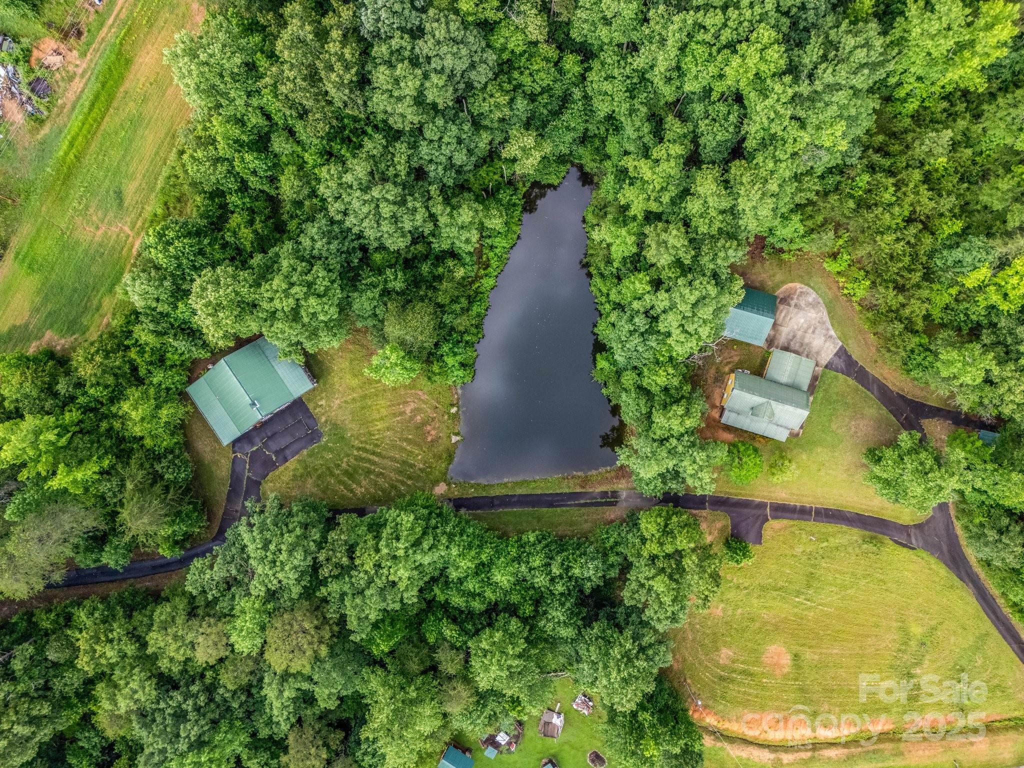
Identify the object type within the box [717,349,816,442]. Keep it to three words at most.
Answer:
house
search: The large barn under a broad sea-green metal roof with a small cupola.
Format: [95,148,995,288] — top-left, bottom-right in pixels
[187,331,326,446]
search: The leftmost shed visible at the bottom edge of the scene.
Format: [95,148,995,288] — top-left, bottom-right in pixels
[436,732,477,768]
